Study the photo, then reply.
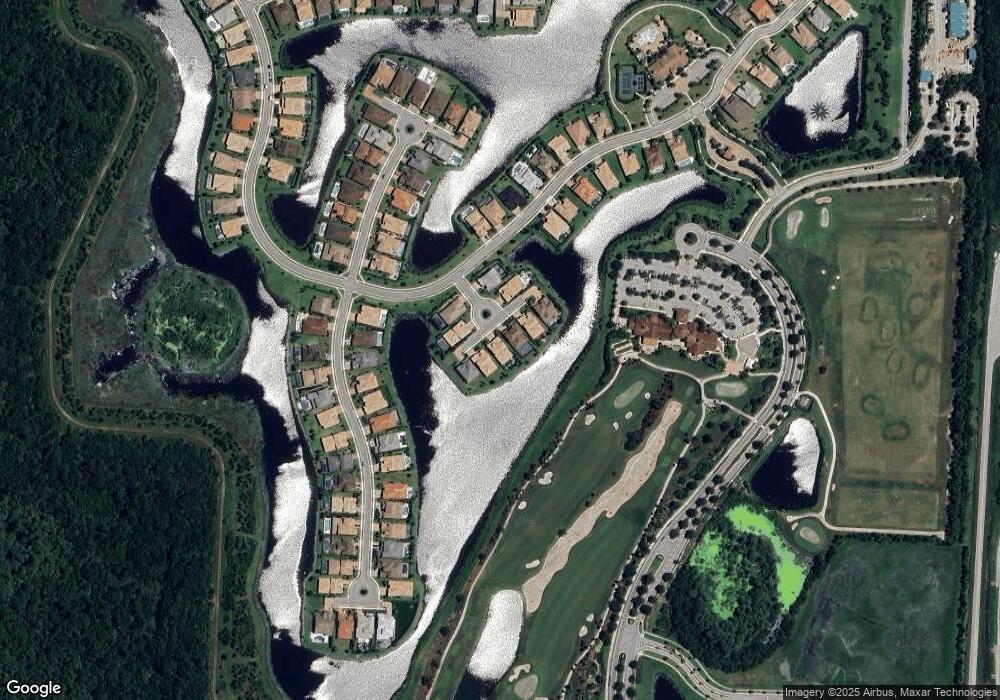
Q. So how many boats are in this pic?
0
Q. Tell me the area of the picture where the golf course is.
bottom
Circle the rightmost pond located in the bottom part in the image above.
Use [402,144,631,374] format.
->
[752,418,819,510]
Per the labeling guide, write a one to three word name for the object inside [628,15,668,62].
swimming pool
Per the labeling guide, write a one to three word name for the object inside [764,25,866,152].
pond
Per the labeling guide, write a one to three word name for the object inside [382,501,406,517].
house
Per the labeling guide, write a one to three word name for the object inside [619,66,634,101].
tennis court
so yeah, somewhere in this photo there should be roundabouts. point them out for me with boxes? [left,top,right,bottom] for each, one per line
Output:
[675,222,707,254]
